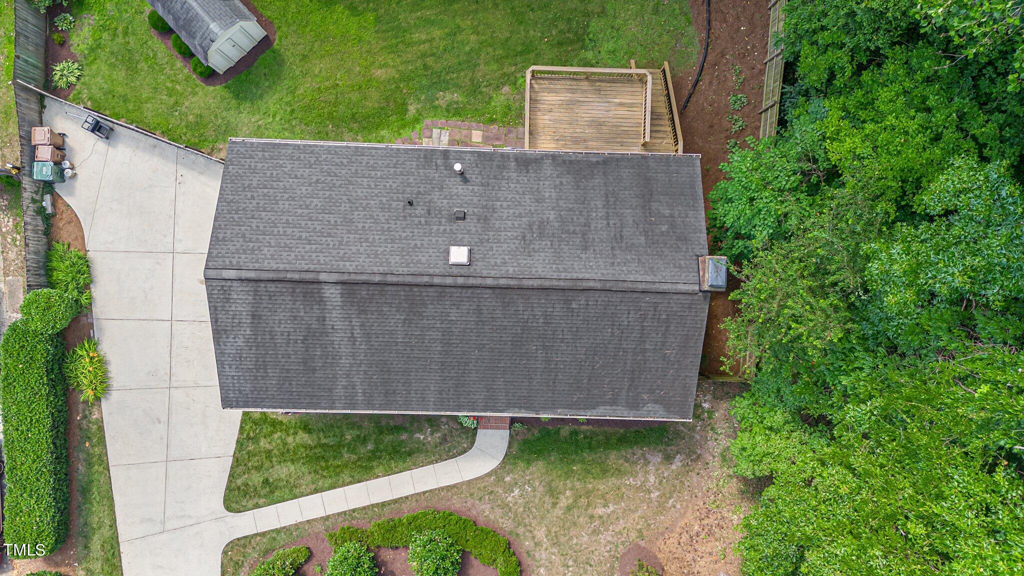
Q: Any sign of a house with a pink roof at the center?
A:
No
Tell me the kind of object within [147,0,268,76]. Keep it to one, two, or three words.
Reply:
shed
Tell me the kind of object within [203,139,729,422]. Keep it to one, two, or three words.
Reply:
house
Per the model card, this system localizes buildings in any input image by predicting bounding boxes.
[203,139,729,422]
[147,0,268,76]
